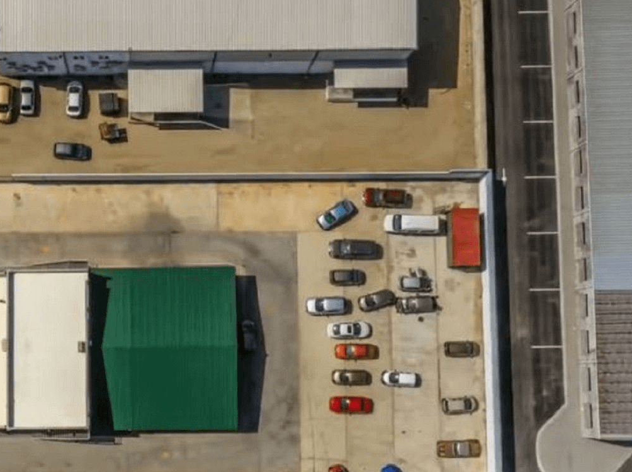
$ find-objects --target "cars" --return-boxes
[435,439,481,459]
[0,81,14,124]
[65,81,83,119]
[328,268,366,287]
[326,320,371,340]
[328,238,379,260]
[305,295,347,315]
[317,198,357,231]
[382,463,402,472]
[357,288,396,312]
[332,368,370,387]
[334,341,376,361]
[443,340,478,359]
[396,295,438,315]
[328,395,372,415]
[399,275,431,293]
[441,395,477,415]
[53,142,91,162]
[380,369,418,388]
[18,81,35,117]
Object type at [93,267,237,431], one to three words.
shed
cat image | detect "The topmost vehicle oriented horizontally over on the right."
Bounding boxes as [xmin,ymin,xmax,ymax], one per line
[363,188,408,208]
